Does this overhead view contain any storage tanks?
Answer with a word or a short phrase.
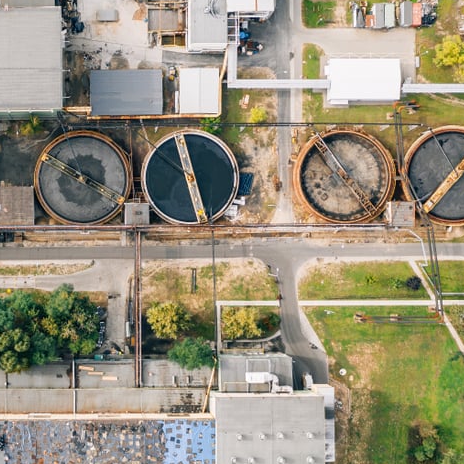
Yes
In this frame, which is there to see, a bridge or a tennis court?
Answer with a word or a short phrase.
bridge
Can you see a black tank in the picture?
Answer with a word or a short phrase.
Yes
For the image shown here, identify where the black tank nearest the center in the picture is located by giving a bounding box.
[138,129,239,226]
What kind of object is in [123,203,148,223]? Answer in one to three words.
shed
